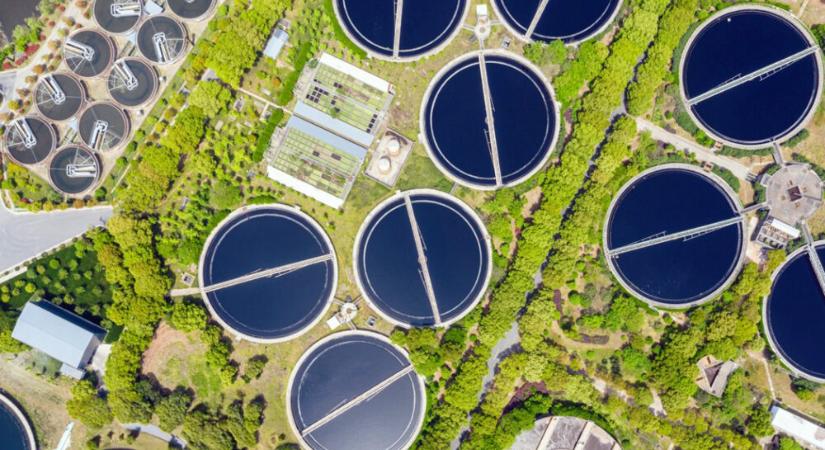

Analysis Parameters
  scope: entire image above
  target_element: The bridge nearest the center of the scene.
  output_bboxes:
[403,190,442,327]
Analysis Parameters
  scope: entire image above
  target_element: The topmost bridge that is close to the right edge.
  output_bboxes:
[685,45,822,107]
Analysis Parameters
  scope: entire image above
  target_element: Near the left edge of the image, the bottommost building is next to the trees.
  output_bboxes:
[12,299,105,379]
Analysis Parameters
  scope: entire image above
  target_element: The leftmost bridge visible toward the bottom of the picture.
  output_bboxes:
[198,254,336,293]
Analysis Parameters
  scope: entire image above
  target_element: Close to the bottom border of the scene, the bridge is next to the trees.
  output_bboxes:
[295,361,417,440]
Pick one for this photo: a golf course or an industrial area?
industrial area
